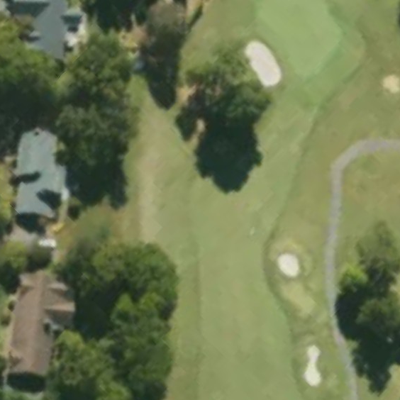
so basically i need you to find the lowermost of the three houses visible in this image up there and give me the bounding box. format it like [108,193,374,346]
[10,268,72,376]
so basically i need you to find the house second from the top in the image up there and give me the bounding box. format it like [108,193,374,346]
[14,129,65,217]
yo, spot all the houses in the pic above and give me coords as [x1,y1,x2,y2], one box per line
[6,0,81,55]
[14,129,65,217]
[10,268,72,376]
